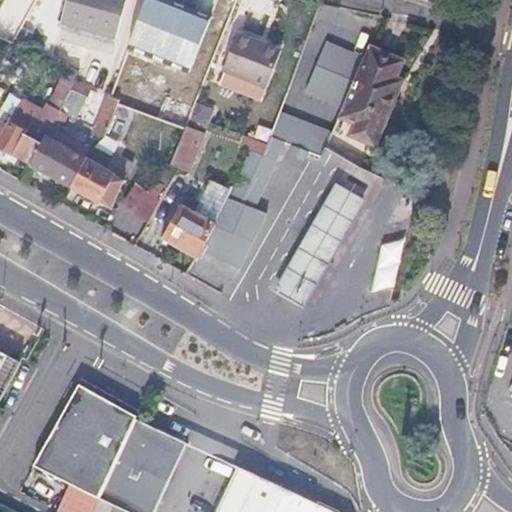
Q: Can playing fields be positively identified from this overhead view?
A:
No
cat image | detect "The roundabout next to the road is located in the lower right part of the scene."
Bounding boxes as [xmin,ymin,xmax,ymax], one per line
[326,315,490,512]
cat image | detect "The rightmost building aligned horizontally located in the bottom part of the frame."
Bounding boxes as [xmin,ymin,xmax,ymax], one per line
[212,463,334,512]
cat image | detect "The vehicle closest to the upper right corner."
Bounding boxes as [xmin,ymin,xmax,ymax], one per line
[354,30,368,52]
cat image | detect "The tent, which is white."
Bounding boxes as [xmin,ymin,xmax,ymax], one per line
[369,238,406,293]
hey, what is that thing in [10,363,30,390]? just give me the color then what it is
white vehicle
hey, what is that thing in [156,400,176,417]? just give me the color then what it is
white car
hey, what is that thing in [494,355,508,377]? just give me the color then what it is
white vehicle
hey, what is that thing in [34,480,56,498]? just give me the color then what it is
white car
